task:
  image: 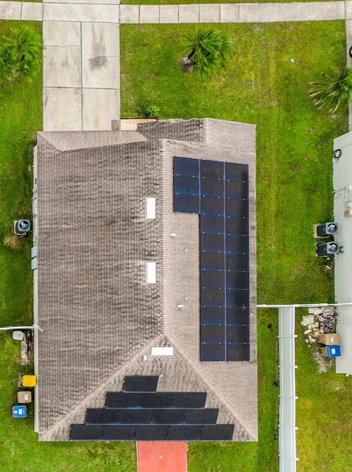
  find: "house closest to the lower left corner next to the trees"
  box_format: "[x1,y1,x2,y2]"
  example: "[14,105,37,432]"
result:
[30,118,258,442]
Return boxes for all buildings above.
[335,134,352,375]
[30,118,258,442]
